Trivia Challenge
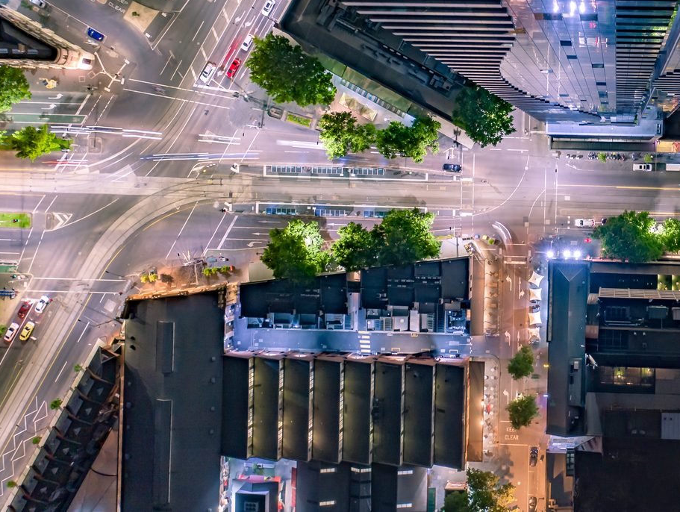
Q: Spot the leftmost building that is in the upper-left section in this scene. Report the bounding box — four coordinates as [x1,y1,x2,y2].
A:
[0,0,114,66]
